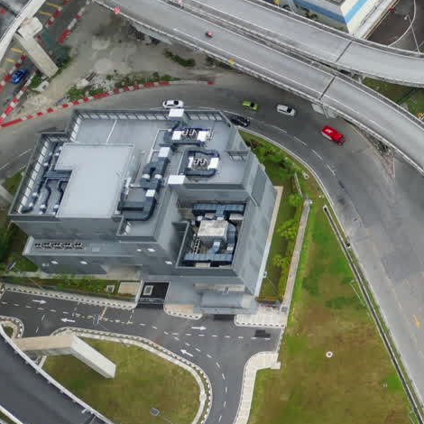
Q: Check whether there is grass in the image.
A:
Yes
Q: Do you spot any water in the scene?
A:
No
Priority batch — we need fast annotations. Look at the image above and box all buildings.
[276,0,399,39]
[5,106,281,319]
